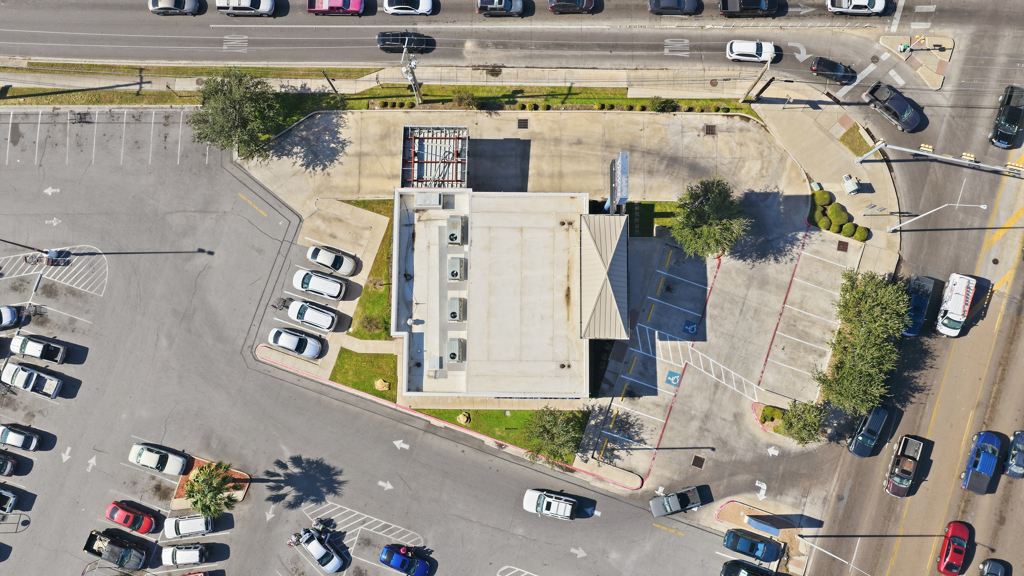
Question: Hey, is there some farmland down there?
No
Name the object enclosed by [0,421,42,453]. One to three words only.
car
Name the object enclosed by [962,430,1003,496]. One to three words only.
truck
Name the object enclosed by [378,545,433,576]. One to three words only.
car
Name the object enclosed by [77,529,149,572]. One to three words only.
truck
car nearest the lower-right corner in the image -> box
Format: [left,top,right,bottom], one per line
[979,556,1005,576]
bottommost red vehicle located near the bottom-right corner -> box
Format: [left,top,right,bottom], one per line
[935,519,970,576]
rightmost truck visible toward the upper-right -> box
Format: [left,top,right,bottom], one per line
[990,85,1024,150]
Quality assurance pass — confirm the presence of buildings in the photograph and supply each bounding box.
[391,188,631,400]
